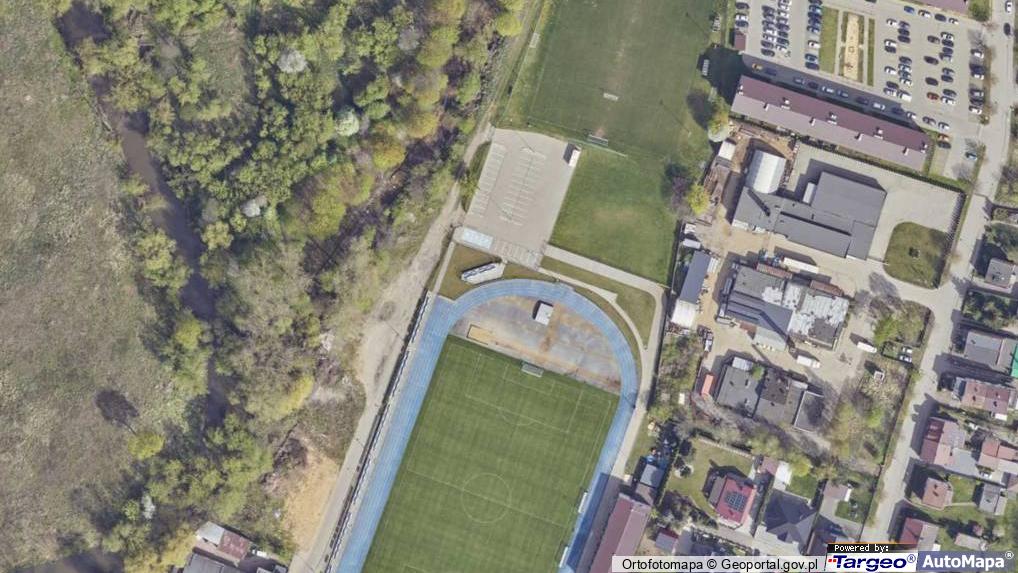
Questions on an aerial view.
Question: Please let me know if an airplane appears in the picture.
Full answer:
No, I find no airplane anywhere in the image.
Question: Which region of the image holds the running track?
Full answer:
The running track is in the bottom part of the image.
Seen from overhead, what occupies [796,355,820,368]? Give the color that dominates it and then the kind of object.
white vehicle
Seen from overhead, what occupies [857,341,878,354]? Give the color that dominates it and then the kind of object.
white vehicle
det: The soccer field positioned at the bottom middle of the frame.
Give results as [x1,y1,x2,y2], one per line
[360,334,619,573]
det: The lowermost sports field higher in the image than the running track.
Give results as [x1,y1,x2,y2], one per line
[552,155,684,283]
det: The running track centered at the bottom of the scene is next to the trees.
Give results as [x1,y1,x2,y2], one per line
[339,278,637,573]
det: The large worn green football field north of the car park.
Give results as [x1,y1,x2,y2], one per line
[529,0,712,160]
